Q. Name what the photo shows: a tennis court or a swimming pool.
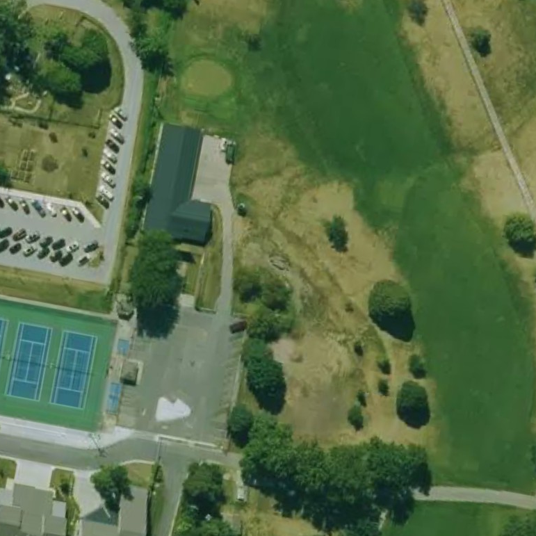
tennis court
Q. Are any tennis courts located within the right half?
No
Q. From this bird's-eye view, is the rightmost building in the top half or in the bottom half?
top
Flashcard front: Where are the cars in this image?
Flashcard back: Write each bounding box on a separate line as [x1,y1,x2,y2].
[97,195,111,208]
[113,108,127,121]
[99,185,113,199]
[65,241,80,253]
[32,199,45,216]
[101,174,115,186]
[103,150,117,163]
[39,236,53,247]
[0,240,10,250]
[76,254,91,266]
[8,242,23,254]
[111,129,125,142]
[18,199,30,214]
[49,250,63,262]
[25,232,40,242]
[22,246,36,257]
[60,207,72,222]
[5,197,17,211]
[36,247,51,259]
[50,238,65,250]
[13,228,27,240]
[0,227,12,239]
[101,161,115,173]
[45,202,57,216]
[72,207,84,222]
[84,240,98,252]
[59,252,74,264]
[105,139,121,153]
[109,114,123,127]
[229,322,246,331]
